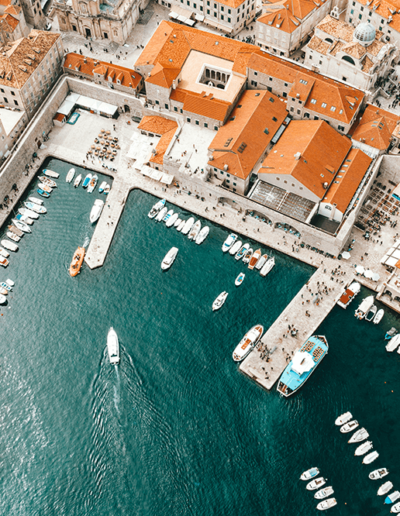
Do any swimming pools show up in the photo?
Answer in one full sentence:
No, there appears to be no swimming pool in this shot.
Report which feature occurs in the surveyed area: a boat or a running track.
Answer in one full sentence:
It is a boat that can be seen here.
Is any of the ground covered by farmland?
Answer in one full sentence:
No, there's no farmland in this view.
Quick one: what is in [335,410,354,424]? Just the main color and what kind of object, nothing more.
white boat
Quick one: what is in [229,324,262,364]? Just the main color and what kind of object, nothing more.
white boat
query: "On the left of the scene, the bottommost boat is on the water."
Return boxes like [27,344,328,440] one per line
[107,324,120,368]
